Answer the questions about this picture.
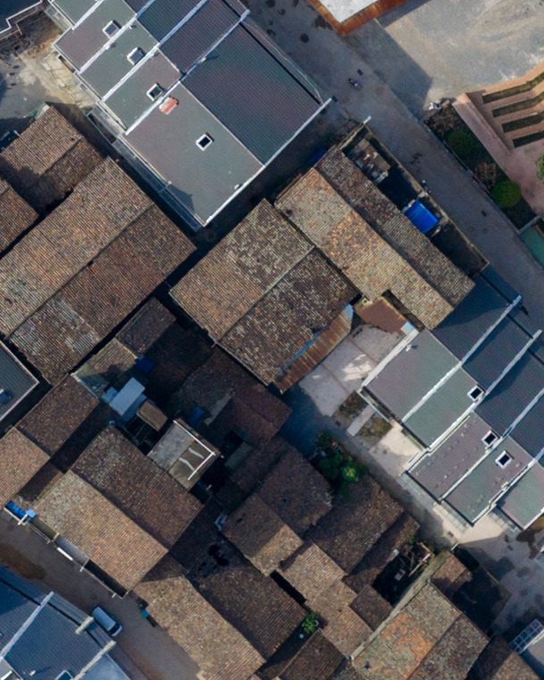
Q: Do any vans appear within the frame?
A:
Yes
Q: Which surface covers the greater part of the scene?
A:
buildings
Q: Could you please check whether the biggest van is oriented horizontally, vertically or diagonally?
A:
diagonally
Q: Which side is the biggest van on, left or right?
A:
left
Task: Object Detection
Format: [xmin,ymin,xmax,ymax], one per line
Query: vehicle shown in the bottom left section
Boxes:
[90,603,123,638]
